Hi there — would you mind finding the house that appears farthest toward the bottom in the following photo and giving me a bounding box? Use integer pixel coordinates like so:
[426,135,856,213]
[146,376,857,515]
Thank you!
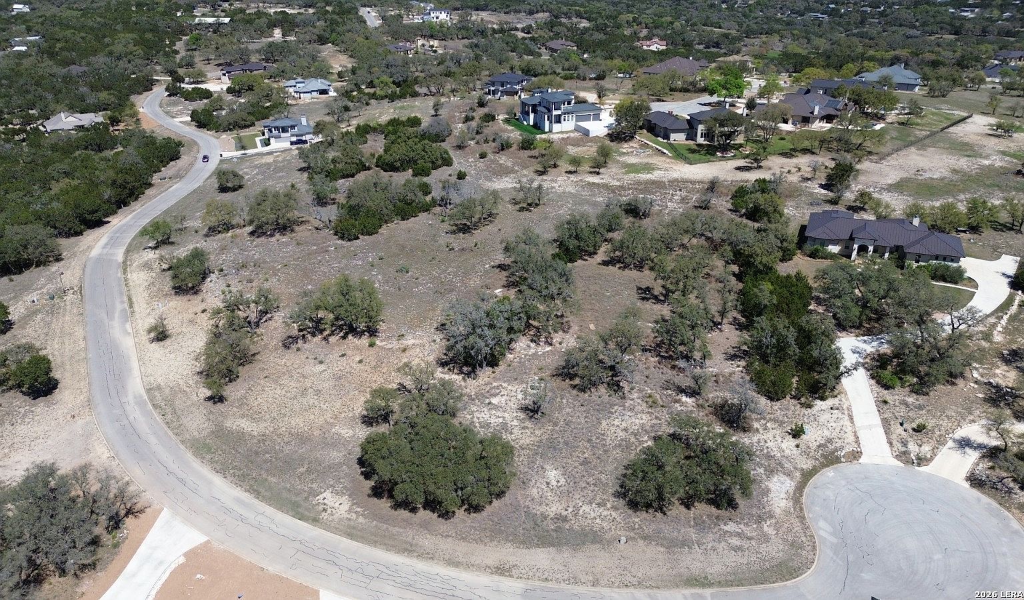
[804,199,970,264]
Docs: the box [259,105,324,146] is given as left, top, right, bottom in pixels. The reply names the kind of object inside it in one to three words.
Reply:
house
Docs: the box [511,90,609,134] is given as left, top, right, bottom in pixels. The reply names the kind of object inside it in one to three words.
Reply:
house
